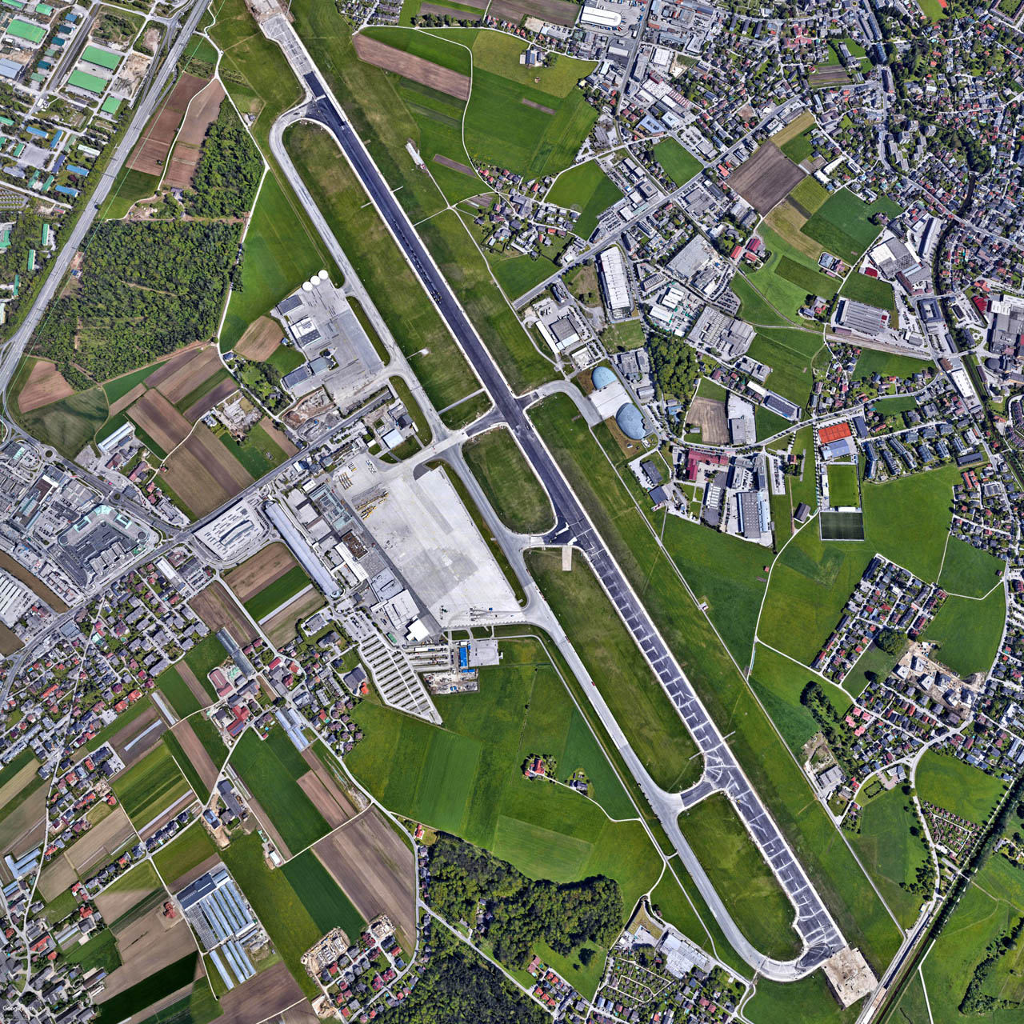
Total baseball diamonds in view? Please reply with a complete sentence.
No baseball diamonds are visible.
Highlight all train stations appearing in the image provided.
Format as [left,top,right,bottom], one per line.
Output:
[824,331,931,359]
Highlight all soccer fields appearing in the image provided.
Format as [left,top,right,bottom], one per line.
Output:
[819,511,864,541]
[826,465,859,507]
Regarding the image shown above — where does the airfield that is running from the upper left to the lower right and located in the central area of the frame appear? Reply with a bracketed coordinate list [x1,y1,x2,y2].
[259,14,905,1010]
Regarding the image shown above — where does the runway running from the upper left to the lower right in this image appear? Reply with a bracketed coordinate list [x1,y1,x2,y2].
[262,14,840,948]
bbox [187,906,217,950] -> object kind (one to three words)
greenhouse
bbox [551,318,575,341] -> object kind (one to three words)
building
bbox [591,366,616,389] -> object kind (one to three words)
hangar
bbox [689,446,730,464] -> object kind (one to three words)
building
